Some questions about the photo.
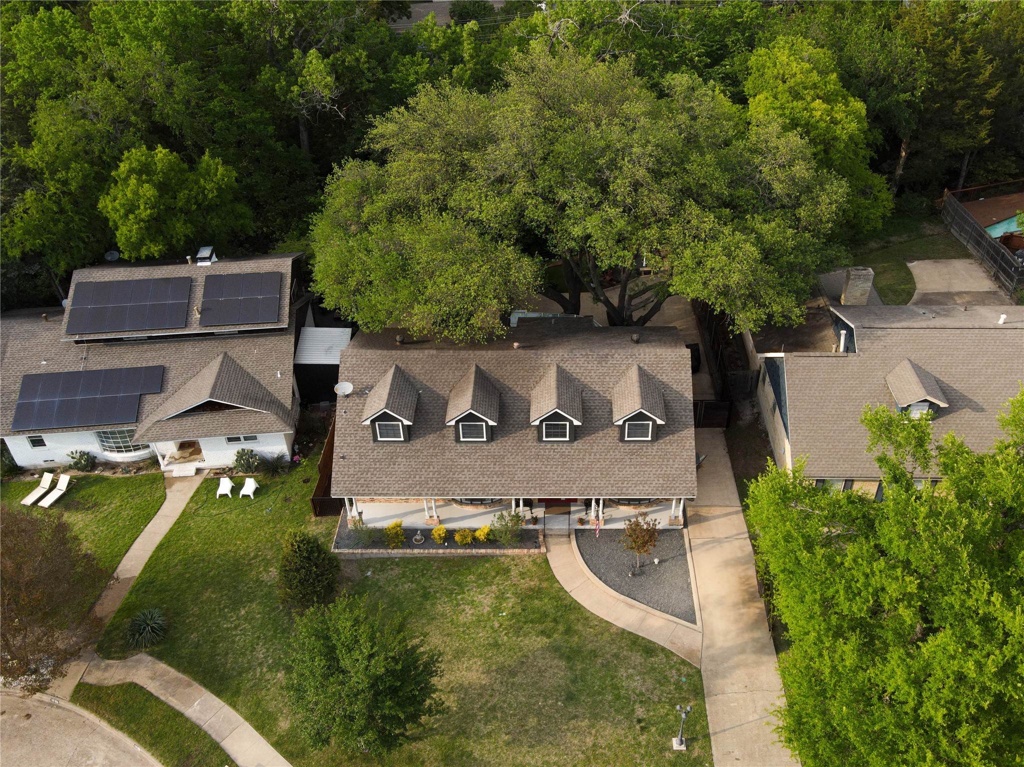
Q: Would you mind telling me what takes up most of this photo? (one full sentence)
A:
For the most part, this view shows trees.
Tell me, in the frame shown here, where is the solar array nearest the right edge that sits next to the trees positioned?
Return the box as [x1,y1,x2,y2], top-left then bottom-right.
[199,270,278,325]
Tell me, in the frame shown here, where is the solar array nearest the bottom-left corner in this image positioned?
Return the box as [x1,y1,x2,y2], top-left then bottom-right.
[11,364,161,430]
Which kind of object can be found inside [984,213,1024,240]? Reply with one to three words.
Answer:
swimming pool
